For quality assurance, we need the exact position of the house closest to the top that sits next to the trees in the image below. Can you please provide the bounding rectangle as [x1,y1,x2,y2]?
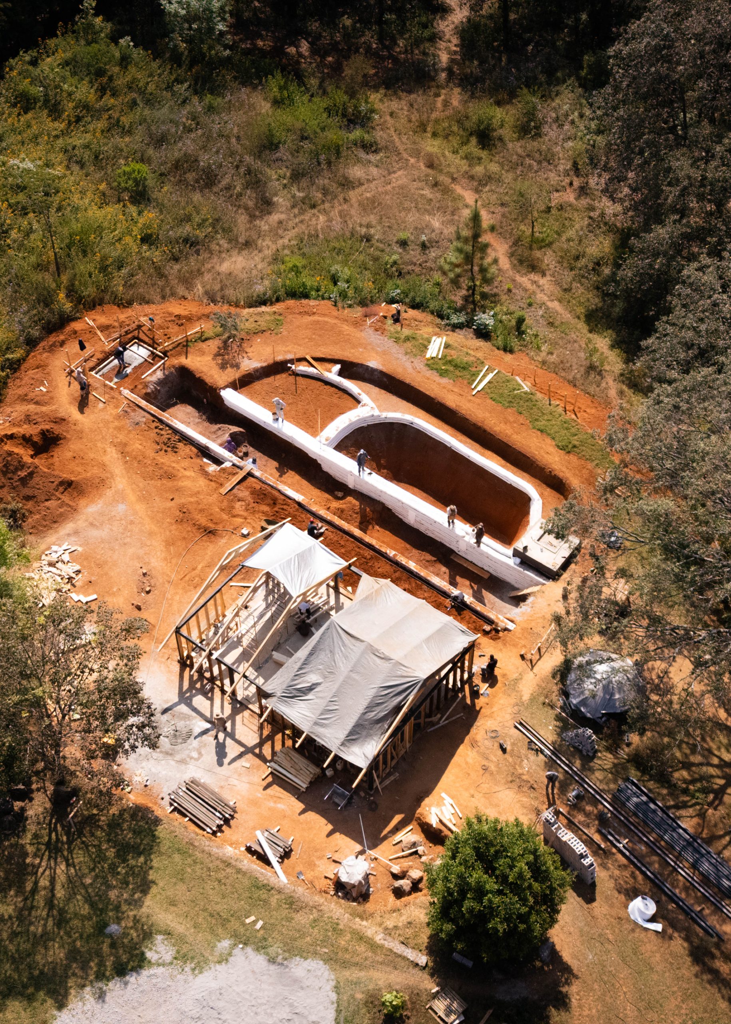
[153,520,484,790]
